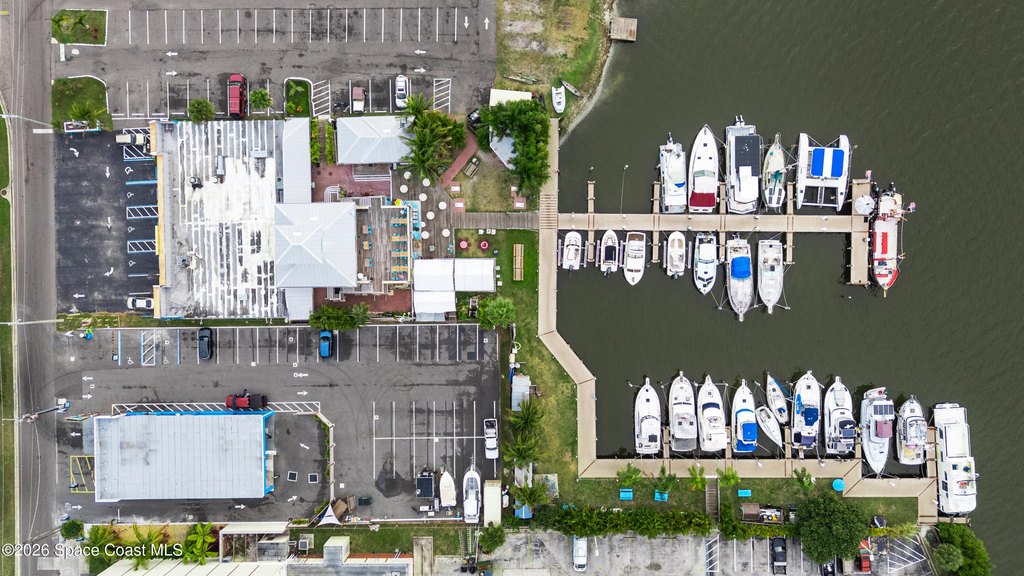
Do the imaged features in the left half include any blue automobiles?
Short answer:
Yes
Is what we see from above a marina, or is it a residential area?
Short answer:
marina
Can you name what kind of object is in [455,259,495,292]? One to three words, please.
tent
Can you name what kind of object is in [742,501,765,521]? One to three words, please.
shed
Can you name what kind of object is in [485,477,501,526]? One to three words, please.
trailer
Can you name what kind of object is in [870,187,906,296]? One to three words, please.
boat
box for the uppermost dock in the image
[604,18,637,43]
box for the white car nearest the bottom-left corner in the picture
[126,295,154,310]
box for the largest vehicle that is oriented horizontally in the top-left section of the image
[111,131,145,145]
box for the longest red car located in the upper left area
[225,75,244,118]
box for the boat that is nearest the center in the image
[562,231,581,274]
